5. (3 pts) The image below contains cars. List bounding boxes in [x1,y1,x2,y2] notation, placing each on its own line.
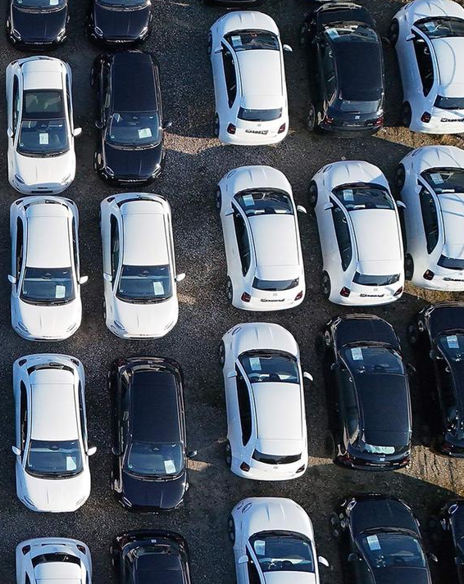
[94,48,173,187]
[101,192,186,339]
[332,493,434,584]
[217,168,306,310]
[4,55,83,194]
[16,538,92,584]
[394,149,464,290]
[416,303,464,457]
[113,530,193,584]
[8,194,90,341]
[321,315,418,469]
[226,497,323,584]
[6,0,71,52]
[89,0,155,49]
[11,353,97,512]
[310,163,404,305]
[208,13,291,145]
[302,5,389,137]
[112,356,200,514]
[219,325,311,479]
[391,1,464,133]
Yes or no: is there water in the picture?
No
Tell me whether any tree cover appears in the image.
No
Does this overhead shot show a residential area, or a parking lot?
parking lot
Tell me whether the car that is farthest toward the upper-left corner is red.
No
